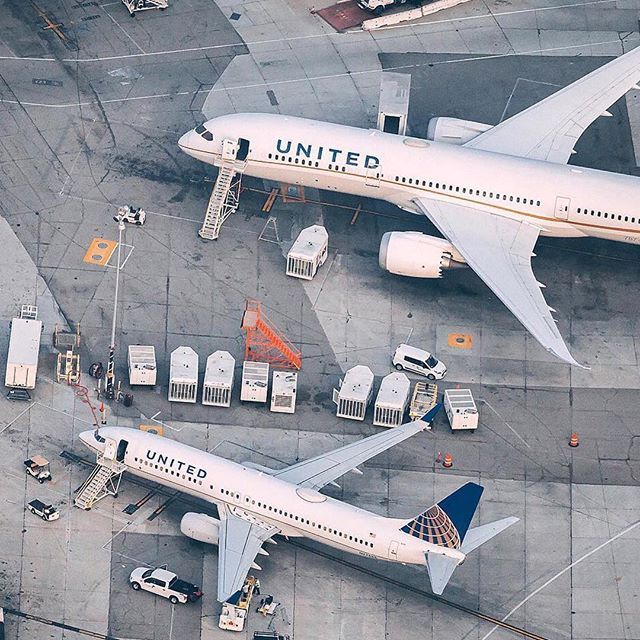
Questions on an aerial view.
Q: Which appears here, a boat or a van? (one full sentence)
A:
Visible in the photo is a van.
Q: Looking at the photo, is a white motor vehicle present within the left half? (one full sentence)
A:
Yes, a white motor vehicle appears within the left half.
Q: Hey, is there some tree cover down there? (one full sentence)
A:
No, no tree cover is visible.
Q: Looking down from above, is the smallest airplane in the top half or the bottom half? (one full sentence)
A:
You can find the smallest airplane in the bottom half.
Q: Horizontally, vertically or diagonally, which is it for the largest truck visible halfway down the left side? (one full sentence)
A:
The largest truck visible halfway down the left side runs vertically in the image.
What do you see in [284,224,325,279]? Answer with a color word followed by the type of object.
white trailer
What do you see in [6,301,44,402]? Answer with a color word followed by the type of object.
white truck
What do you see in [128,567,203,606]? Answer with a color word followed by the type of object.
white truck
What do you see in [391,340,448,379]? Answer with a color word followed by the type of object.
white van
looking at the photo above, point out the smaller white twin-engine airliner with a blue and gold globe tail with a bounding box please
[81,404,524,607]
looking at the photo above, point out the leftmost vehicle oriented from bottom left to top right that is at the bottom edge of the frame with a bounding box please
[219,569,262,628]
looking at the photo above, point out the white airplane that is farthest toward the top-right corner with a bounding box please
[179,56,640,369]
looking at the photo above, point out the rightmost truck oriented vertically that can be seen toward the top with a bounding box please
[381,74,411,134]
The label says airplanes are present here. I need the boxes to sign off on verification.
[179,56,640,369]
[81,404,524,607]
